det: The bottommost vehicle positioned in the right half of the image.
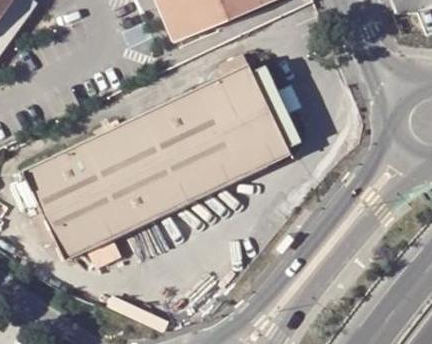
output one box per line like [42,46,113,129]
[286,308,306,331]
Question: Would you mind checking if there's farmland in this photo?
No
